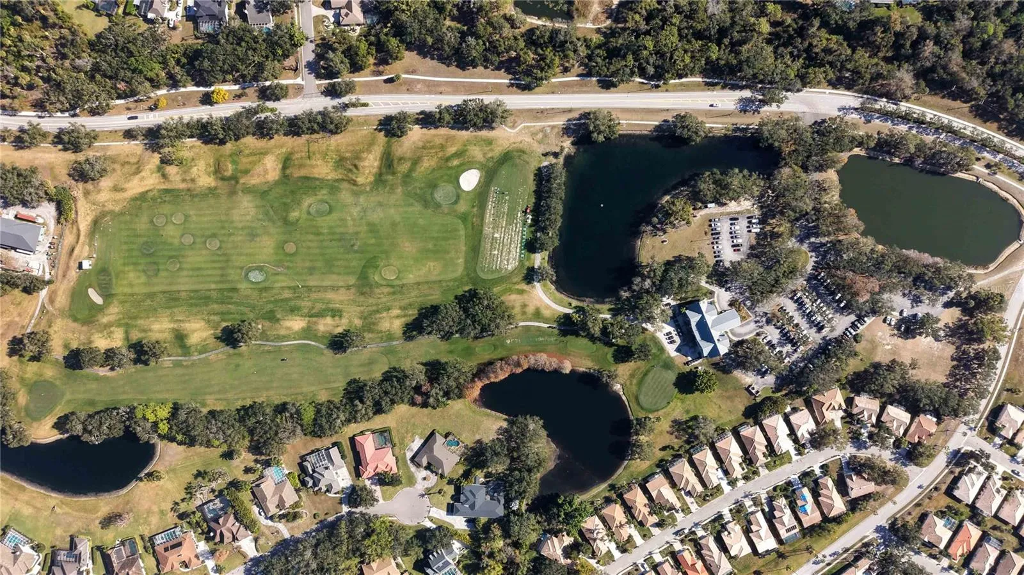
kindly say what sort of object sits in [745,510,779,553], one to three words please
house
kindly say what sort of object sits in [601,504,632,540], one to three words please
house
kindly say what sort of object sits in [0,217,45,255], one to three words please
building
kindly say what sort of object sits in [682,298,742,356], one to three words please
building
